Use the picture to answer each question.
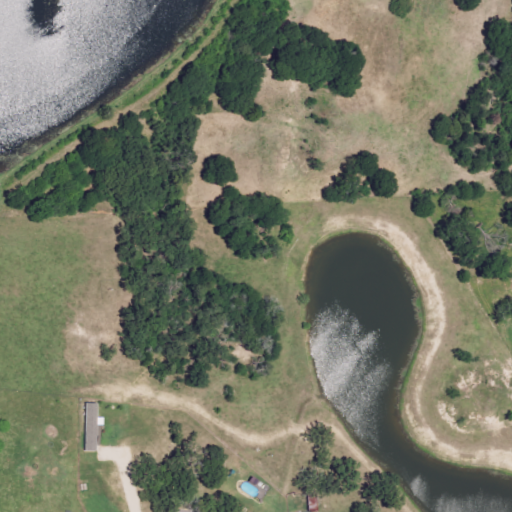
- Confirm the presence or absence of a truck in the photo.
No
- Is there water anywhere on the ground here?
Yes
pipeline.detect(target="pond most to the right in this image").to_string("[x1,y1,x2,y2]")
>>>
[304,231,512,512]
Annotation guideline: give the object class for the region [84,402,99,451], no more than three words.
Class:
house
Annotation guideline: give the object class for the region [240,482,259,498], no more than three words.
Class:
swimming pool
